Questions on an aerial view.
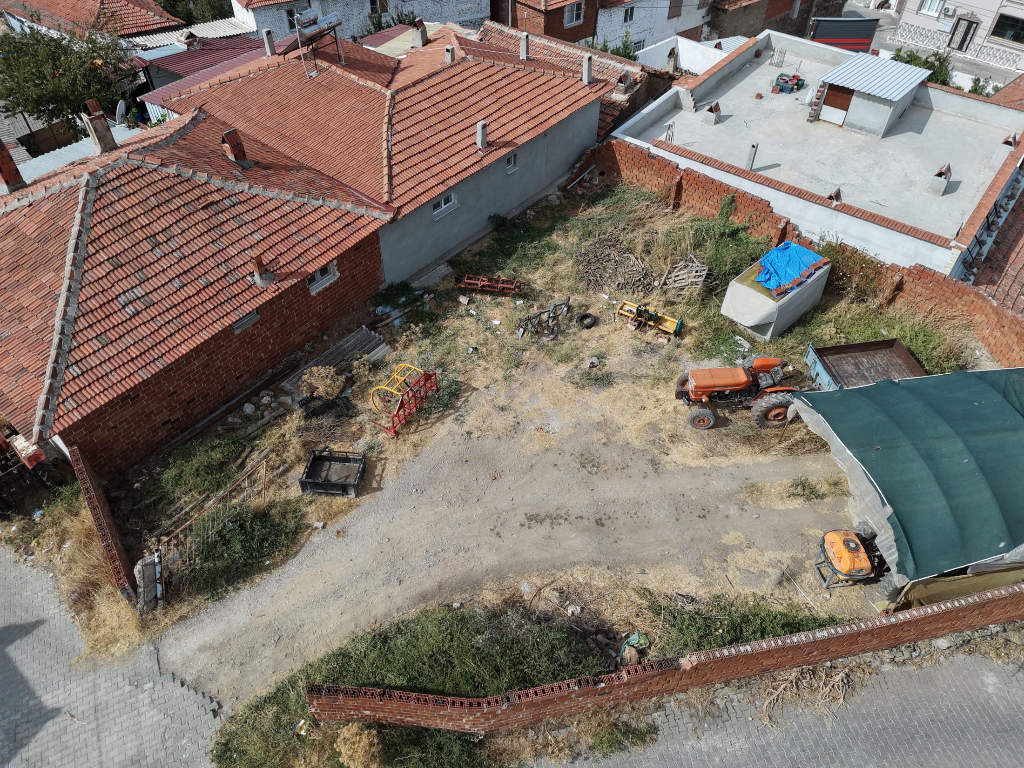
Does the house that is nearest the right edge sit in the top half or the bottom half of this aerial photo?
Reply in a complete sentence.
You can find the house that is nearest the right edge in the top half.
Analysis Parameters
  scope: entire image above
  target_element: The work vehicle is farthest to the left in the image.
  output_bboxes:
[674,352,807,430]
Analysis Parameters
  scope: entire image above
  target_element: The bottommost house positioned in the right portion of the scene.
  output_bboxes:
[957,196,1024,323]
